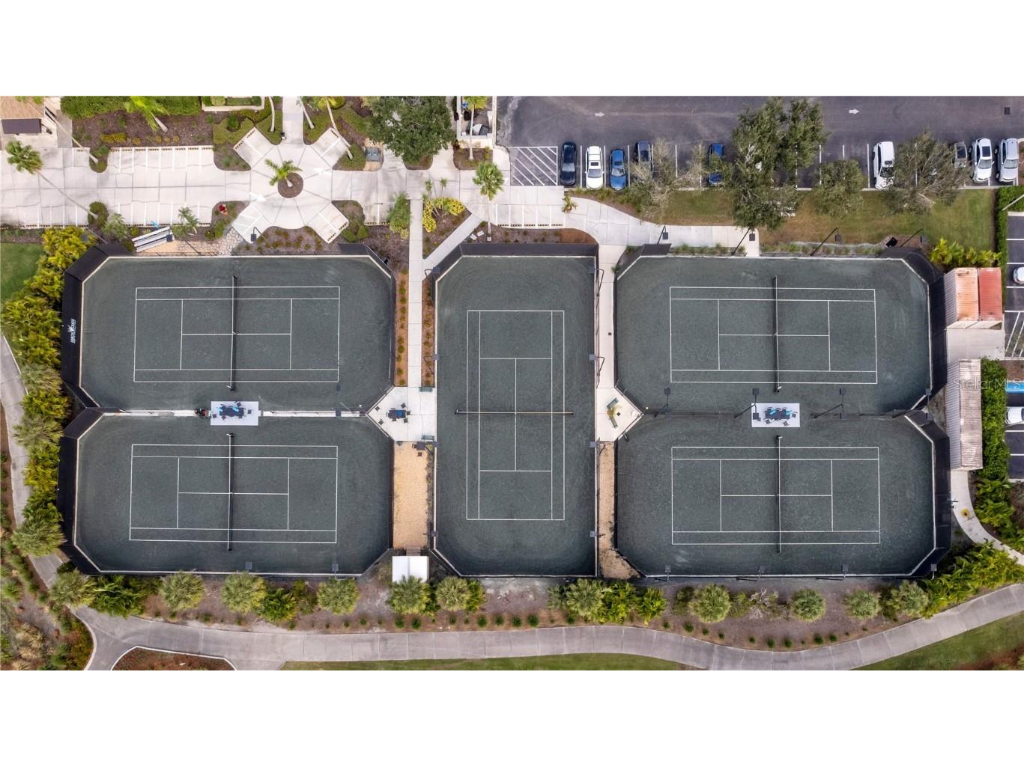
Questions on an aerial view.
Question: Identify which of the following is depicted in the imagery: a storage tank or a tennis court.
tennis court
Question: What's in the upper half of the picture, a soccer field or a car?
car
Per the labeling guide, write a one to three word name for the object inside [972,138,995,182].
car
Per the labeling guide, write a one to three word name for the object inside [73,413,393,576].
tennis court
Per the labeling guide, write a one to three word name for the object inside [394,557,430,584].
shed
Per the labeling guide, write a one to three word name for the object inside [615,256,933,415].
tennis court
